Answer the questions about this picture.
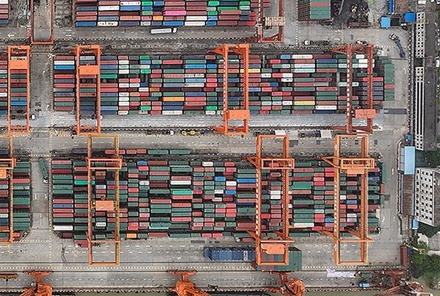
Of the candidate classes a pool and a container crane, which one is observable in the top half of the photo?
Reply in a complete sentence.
It is a container crane that can be seen in the top half of the photo.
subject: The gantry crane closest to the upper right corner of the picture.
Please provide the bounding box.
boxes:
[326,42,376,134]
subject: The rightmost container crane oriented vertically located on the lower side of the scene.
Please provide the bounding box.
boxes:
[314,135,374,265]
